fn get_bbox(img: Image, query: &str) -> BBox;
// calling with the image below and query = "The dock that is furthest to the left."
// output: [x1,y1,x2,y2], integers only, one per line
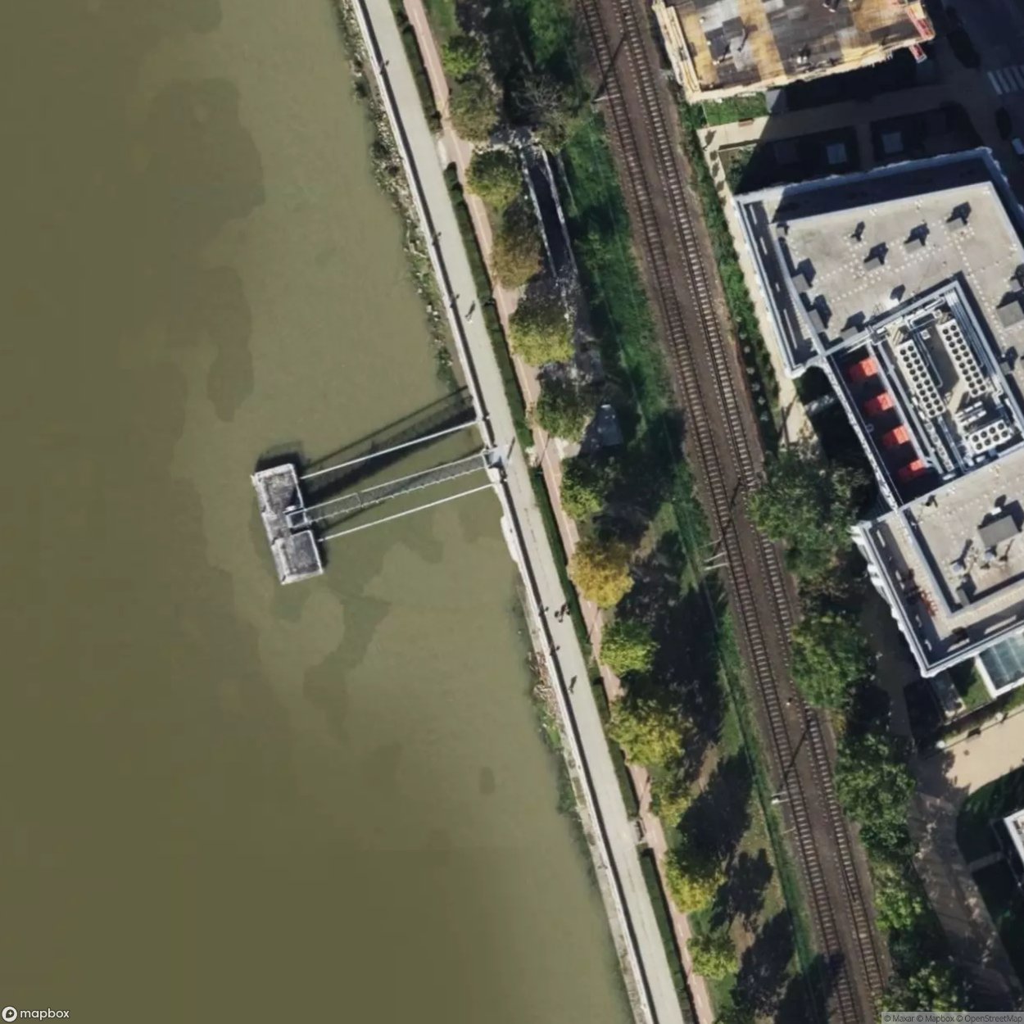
[253,461,325,585]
